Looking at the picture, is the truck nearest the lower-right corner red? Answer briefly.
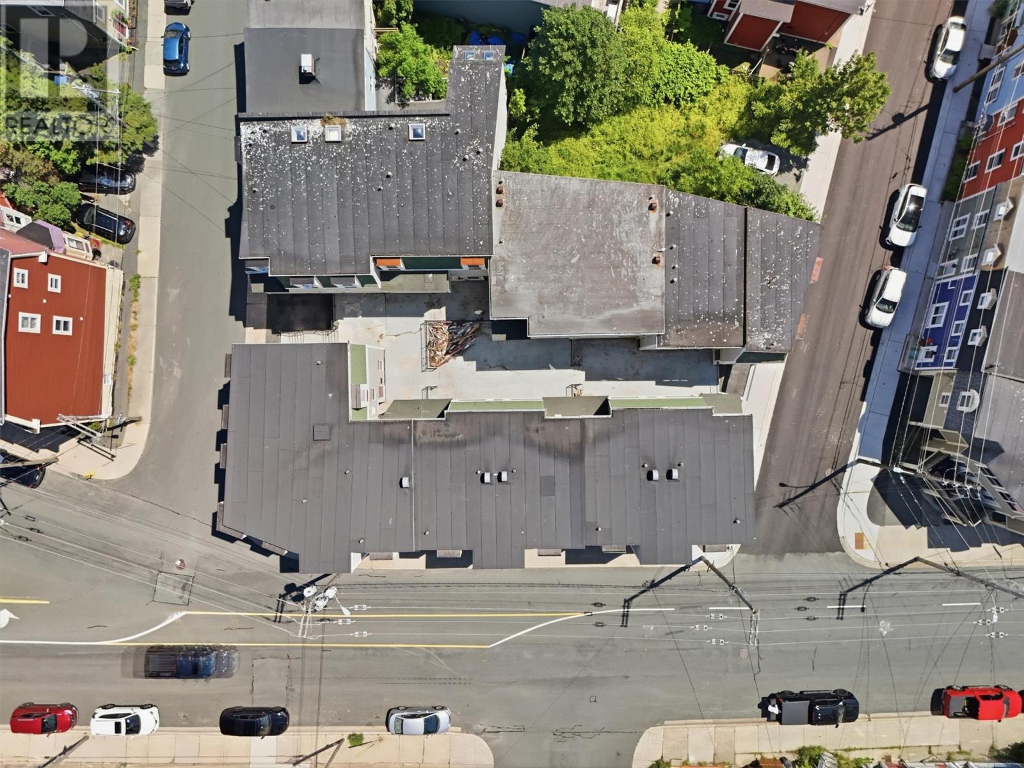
Yes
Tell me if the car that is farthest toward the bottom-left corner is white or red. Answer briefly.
red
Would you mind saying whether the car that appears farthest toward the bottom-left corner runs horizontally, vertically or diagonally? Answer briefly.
horizontally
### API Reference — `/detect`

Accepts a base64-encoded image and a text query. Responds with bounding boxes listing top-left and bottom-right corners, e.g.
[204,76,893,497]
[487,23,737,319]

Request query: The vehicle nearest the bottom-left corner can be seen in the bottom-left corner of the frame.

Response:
[7,701,81,738]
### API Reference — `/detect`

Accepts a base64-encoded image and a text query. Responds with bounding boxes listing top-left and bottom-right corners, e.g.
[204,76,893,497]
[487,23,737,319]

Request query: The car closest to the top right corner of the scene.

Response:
[924,13,970,86]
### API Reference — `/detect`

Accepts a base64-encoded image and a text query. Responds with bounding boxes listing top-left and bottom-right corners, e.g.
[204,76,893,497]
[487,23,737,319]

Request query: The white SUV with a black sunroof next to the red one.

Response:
[88,703,162,741]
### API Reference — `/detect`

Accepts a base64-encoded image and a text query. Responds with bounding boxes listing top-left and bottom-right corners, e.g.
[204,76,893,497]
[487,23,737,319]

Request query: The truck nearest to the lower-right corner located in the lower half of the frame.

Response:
[938,685,1021,725]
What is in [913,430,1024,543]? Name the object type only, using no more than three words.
house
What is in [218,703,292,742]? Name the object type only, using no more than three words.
car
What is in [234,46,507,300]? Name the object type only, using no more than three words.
building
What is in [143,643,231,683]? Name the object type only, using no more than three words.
truck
